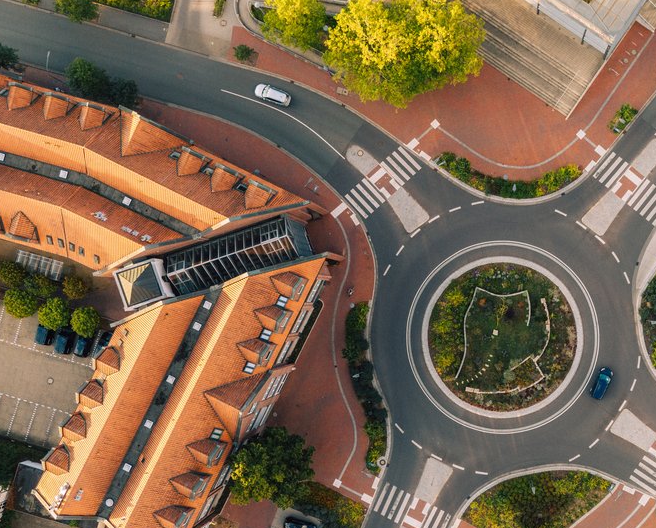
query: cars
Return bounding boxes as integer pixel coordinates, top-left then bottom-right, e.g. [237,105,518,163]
[589,366,611,399]
[73,330,96,360]
[34,320,55,347]
[52,320,75,355]
[282,515,318,528]
[254,83,294,108]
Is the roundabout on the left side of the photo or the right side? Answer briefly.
right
